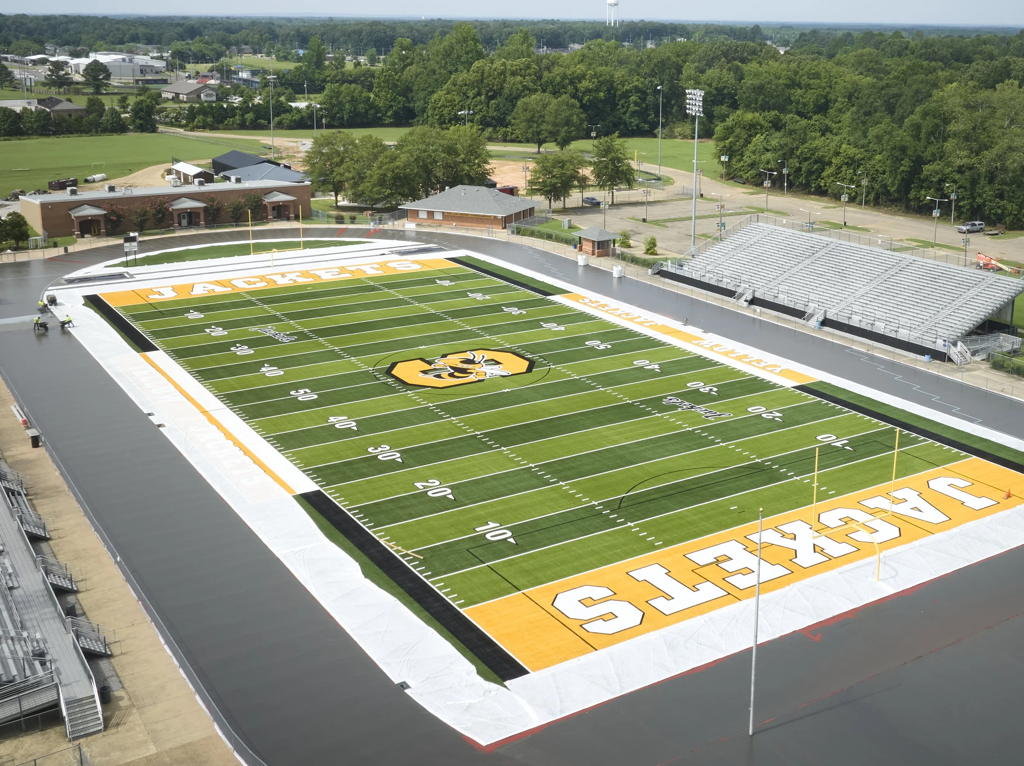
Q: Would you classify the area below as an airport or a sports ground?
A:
sports ground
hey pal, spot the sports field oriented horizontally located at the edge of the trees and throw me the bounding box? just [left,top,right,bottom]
[83,253,1024,684]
